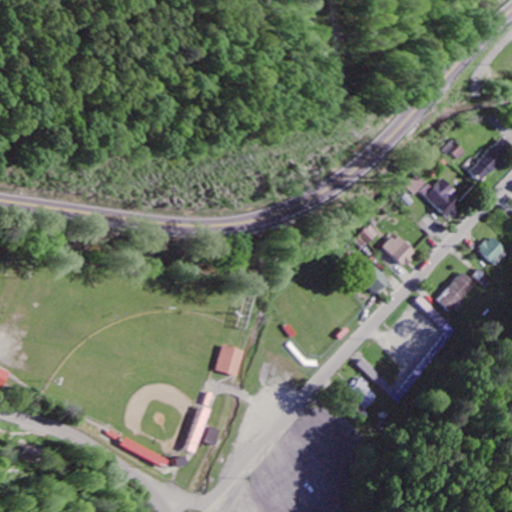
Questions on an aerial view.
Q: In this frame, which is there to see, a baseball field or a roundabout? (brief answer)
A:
baseball field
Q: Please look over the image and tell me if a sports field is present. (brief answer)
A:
Yes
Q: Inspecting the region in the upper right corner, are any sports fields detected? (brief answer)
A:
No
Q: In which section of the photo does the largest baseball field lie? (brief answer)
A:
bottom left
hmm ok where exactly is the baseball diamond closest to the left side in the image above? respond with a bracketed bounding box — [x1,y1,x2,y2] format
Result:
[44,309,222,455]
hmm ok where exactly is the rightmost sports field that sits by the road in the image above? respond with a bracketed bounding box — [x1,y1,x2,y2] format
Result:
[276,290,360,357]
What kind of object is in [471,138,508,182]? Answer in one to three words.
house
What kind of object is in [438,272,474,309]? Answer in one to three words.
house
